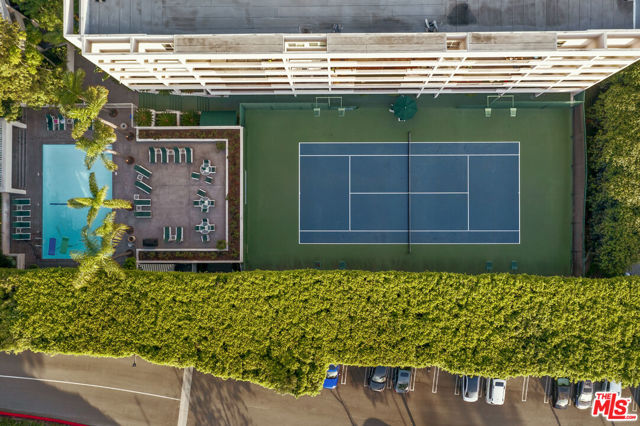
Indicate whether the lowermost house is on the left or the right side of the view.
left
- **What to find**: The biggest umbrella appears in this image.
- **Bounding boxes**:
[392,97,416,121]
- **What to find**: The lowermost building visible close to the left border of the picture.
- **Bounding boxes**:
[0,122,42,197]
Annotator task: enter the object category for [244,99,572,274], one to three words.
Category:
tennis court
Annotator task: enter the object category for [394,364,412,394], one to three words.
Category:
car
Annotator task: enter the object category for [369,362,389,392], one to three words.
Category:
car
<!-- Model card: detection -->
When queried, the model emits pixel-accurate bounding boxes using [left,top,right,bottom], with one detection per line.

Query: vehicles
[572,377,594,410]
[323,364,341,391]
[482,374,504,407]
[549,375,571,410]
[394,364,412,394]
[459,372,479,403]
[369,362,389,392]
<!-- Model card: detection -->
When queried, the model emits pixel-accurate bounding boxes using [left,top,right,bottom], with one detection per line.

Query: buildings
[199,111,239,127]
[62,0,640,99]
[0,122,42,197]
